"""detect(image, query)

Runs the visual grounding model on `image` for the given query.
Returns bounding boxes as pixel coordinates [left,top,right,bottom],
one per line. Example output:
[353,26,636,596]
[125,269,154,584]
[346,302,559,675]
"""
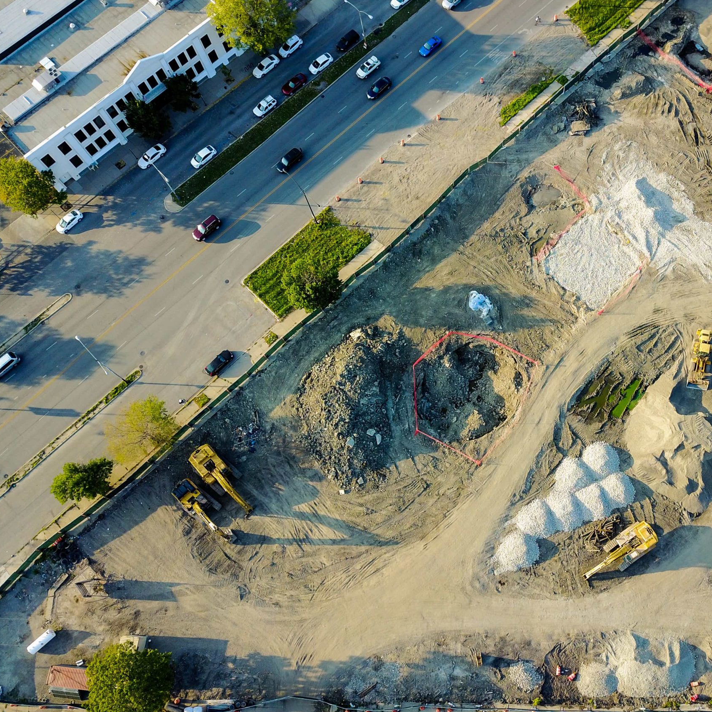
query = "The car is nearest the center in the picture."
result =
[204,349,235,378]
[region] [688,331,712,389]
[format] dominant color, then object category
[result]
yellow work vehicle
